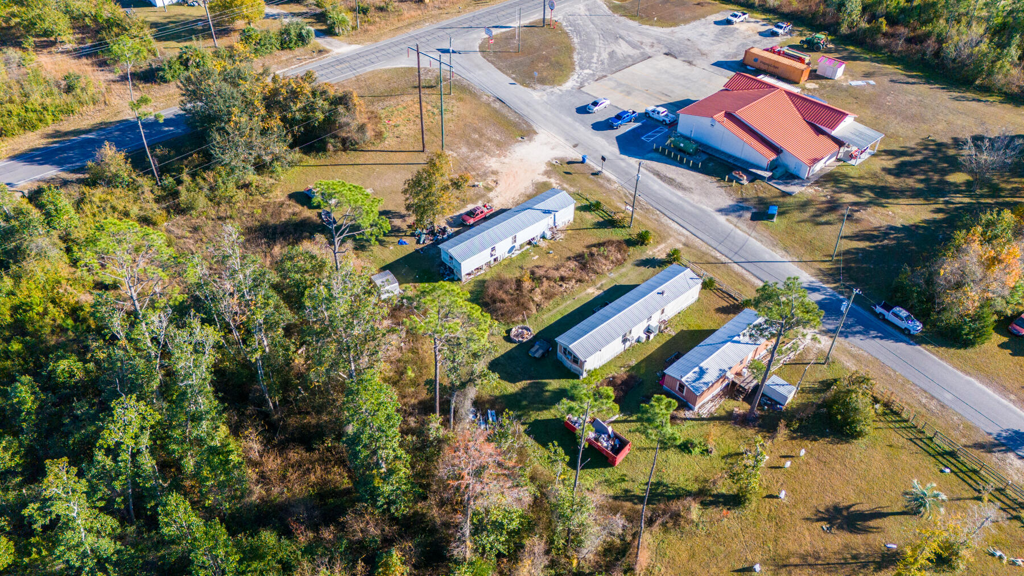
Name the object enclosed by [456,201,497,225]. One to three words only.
truck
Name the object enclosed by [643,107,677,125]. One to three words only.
vehicle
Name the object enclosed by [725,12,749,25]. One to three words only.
vehicle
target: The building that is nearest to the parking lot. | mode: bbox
[675,71,868,179]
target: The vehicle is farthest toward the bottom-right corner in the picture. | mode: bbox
[1002,311,1024,335]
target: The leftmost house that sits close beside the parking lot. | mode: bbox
[436,190,578,280]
